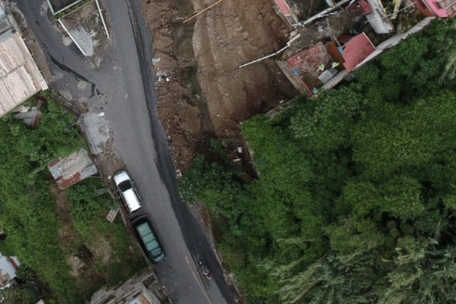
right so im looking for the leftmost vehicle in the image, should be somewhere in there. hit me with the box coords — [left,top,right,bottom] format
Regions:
[110,168,144,218]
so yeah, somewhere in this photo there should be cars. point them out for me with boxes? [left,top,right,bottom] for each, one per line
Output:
[128,213,167,267]
[110,168,144,218]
